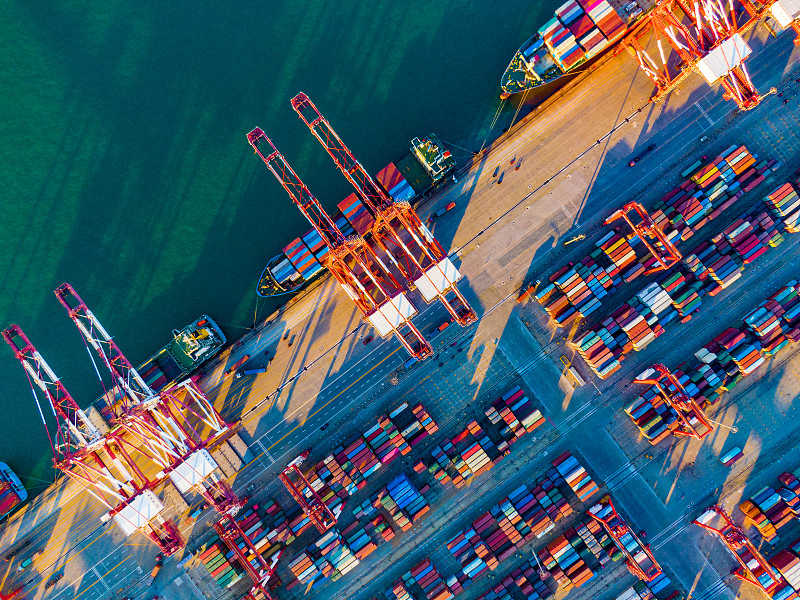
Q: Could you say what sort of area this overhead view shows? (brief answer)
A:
port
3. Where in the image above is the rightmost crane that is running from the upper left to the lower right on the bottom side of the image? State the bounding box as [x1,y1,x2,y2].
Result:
[689,500,786,595]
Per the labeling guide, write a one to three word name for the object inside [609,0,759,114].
container crane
